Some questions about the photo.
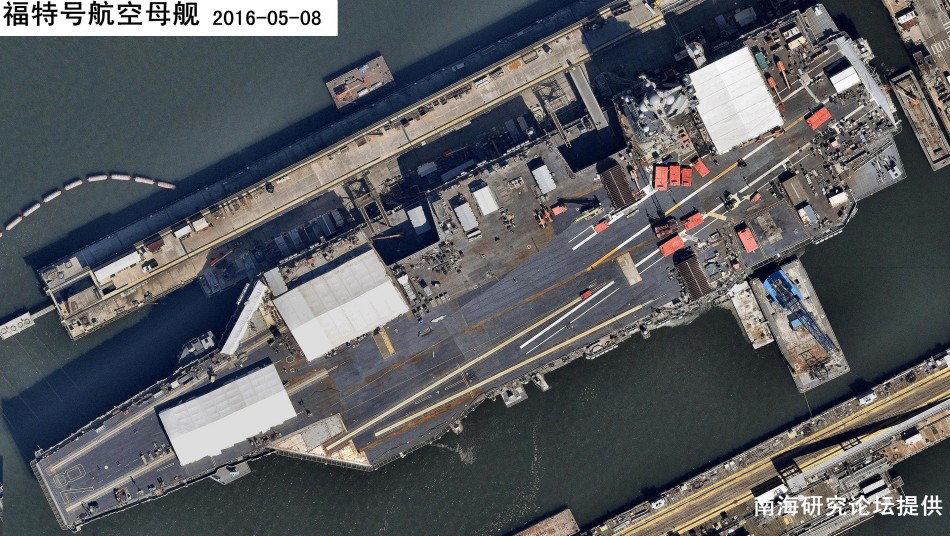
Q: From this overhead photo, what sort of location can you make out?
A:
port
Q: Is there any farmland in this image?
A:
No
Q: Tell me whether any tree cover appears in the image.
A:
No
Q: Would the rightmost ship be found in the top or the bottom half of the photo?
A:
top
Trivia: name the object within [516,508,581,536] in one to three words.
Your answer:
ship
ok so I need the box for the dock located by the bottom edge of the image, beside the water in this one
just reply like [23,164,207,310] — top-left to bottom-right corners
[576,344,950,536]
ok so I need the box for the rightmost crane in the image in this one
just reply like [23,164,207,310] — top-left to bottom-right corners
[764,270,843,361]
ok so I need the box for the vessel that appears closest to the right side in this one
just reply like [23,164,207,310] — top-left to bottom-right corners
[890,70,950,172]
